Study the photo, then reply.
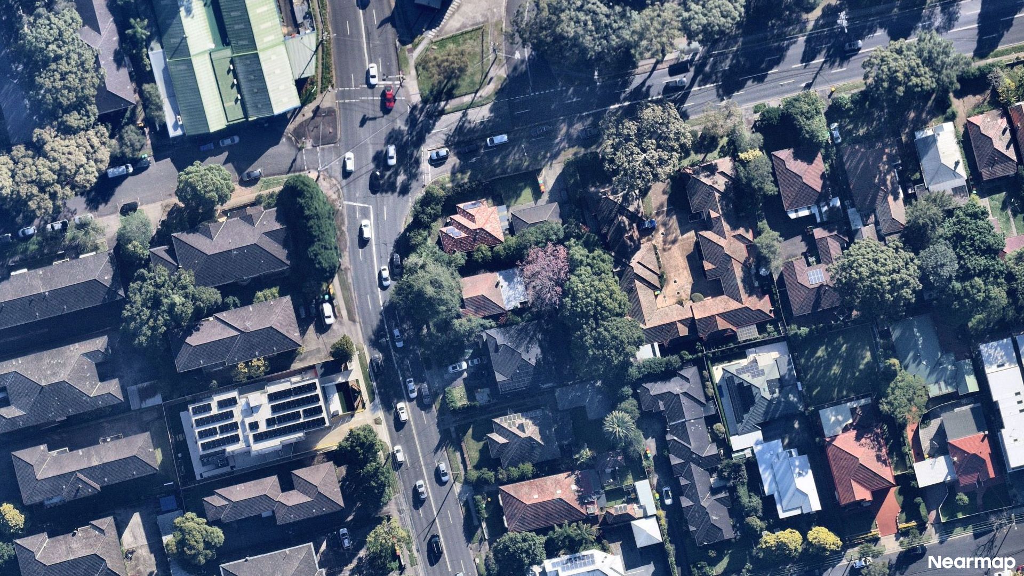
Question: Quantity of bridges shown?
none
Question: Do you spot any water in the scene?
No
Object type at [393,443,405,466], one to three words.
vehicle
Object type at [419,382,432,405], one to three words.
vehicle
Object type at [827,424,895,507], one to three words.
house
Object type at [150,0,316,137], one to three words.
warehouse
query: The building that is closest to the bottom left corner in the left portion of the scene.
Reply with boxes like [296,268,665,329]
[6,516,130,576]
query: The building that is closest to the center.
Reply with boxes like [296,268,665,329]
[458,267,529,318]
